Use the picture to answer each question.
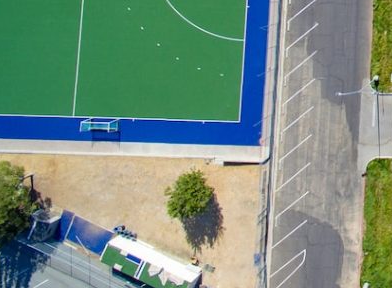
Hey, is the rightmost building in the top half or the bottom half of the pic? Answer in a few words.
bottom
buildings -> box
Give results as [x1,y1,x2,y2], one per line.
[99,236,205,288]
[18,204,64,247]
